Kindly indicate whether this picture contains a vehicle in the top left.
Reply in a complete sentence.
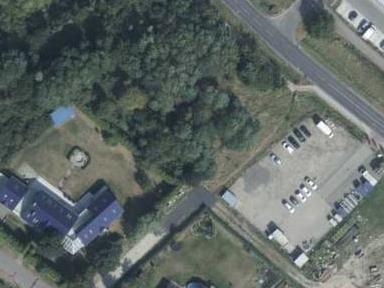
No, looking in the top left, there is no vehicle.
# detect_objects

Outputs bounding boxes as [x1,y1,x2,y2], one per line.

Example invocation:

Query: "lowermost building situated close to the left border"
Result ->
[0,170,124,255]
